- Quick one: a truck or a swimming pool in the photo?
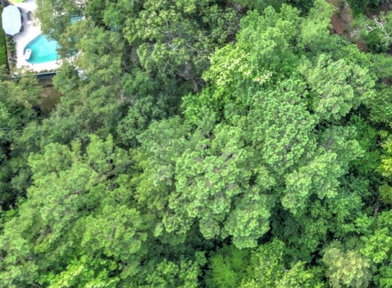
swimming pool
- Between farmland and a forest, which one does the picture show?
forest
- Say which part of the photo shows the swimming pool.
top left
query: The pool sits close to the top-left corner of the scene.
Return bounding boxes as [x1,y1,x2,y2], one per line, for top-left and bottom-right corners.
[21,24,85,65]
